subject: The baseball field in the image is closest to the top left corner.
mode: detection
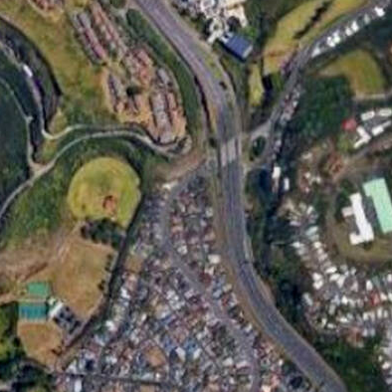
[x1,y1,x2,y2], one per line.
[68,156,140,227]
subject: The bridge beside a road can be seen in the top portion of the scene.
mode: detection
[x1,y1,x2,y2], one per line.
[215,131,242,166]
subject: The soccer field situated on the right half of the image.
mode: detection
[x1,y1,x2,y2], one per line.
[326,51,387,94]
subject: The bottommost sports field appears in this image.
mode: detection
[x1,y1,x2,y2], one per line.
[16,319,70,369]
